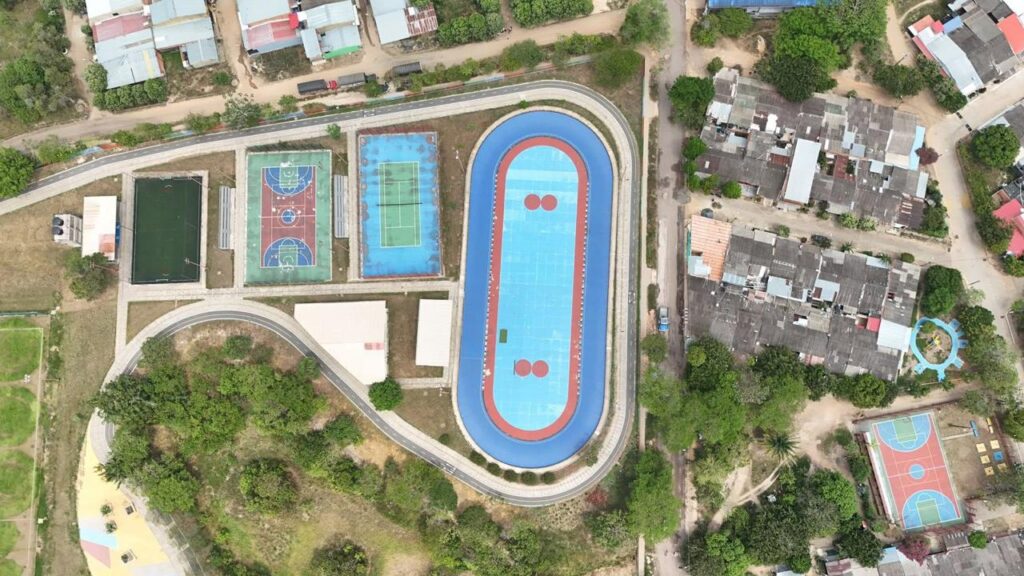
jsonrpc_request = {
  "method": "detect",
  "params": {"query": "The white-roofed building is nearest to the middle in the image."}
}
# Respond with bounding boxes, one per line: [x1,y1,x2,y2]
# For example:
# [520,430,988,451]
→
[416,299,453,366]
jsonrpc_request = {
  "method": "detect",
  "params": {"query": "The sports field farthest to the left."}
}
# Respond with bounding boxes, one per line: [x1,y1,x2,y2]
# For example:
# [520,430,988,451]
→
[0,315,43,576]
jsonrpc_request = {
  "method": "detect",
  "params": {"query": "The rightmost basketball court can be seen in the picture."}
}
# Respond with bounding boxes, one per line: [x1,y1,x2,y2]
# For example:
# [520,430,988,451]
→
[867,408,968,536]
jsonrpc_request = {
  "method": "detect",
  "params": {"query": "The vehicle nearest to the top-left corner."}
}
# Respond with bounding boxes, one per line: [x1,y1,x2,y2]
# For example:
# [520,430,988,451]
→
[295,77,337,92]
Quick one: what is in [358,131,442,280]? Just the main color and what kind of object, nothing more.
blue tennis court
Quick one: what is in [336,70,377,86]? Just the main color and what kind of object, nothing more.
gray vehicle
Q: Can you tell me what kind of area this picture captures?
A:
residential area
